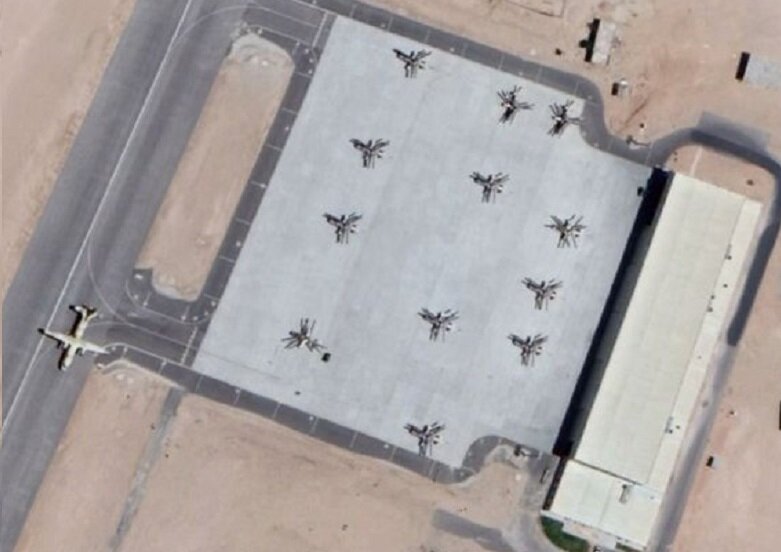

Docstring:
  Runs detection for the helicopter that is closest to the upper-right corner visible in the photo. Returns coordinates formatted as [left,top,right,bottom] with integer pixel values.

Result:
[552,101,582,136]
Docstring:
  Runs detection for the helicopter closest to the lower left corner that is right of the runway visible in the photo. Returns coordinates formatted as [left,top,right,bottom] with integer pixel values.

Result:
[291,319,325,349]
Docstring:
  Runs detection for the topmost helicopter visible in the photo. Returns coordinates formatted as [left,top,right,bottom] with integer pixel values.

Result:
[398,50,433,80]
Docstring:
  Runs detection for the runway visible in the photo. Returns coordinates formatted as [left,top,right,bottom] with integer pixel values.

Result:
[0,0,238,552]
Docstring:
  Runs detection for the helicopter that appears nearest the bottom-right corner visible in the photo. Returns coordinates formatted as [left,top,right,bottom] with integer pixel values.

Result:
[516,337,548,366]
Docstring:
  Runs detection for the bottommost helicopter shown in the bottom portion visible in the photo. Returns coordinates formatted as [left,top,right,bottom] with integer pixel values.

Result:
[412,425,446,455]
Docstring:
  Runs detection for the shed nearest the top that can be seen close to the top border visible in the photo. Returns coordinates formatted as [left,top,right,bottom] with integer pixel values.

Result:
[588,20,617,65]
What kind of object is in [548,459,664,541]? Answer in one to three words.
building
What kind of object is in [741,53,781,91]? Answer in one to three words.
shed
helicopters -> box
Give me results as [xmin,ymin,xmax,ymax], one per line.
[477,175,511,204]
[398,50,433,80]
[426,312,459,342]
[291,319,325,349]
[530,281,562,310]
[551,217,586,248]
[552,101,582,136]
[356,140,390,169]
[330,216,364,245]
[412,425,446,455]
[516,337,548,366]
[503,87,532,124]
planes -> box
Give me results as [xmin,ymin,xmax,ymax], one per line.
[46,306,108,371]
